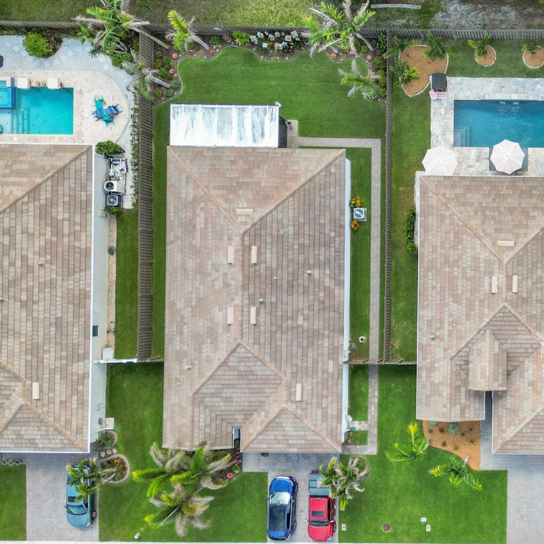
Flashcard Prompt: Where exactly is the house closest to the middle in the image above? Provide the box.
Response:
[163,145,353,454]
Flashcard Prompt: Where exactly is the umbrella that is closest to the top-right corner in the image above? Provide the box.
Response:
[490,140,526,175]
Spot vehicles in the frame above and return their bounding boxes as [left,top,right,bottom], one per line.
[61,460,102,528]
[303,466,338,542]
[263,474,301,541]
